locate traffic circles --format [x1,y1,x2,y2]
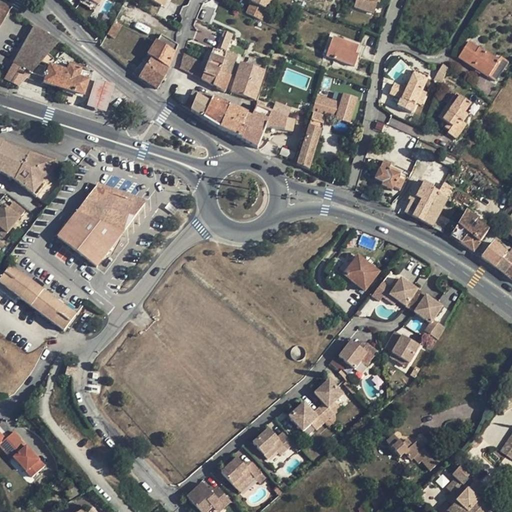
[196,150,290,243]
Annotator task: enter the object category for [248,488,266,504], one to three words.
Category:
swimming pool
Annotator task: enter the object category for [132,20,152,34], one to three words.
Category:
vehicle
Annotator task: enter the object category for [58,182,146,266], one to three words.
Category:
building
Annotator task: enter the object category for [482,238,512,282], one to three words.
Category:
house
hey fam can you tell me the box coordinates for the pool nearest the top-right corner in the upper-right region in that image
[388,58,406,80]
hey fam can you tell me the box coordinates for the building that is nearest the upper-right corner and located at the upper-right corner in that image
[459,42,509,80]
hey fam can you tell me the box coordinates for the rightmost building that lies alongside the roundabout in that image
[297,94,338,168]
